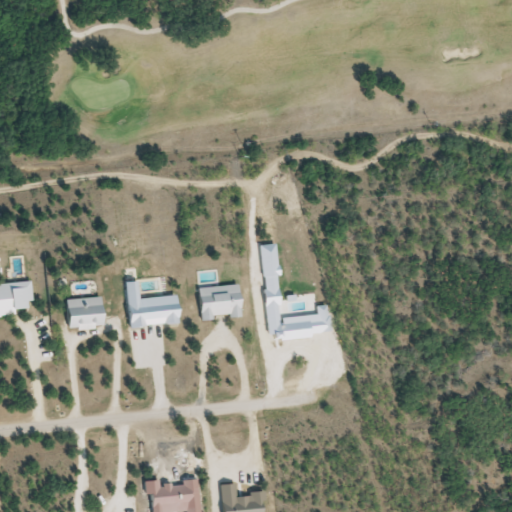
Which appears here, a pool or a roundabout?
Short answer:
pool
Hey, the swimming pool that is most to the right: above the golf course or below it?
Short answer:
below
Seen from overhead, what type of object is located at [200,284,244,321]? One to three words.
house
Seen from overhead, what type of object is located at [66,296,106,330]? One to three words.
house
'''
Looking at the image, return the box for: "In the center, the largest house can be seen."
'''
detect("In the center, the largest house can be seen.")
[260,244,332,341]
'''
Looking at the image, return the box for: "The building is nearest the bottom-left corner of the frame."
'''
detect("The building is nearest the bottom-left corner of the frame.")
[145,480,204,512]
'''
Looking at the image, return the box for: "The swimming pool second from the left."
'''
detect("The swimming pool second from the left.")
[68,280,97,295]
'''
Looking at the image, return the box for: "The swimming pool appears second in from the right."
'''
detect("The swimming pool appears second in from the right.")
[198,270,218,285]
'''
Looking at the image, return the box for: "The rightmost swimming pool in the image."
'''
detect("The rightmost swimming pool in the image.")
[282,294,316,314]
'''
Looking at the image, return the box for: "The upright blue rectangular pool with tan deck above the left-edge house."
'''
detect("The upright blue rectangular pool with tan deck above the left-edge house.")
[7,256,26,278]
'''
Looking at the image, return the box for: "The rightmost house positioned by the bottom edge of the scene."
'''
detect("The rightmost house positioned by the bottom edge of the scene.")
[220,483,268,512]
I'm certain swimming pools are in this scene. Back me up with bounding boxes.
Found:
[282,294,316,314]
[68,280,97,295]
[7,256,26,278]
[198,270,218,285]
[136,277,162,294]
